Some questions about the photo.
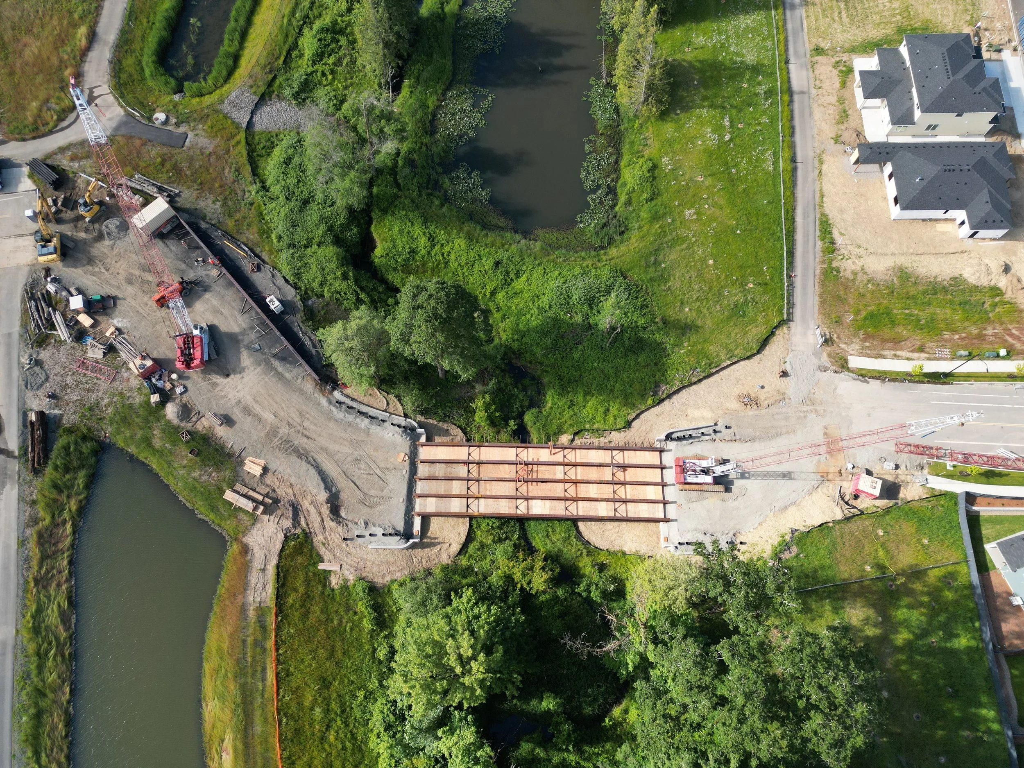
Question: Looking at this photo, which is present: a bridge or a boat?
bridge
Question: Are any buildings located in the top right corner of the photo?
Yes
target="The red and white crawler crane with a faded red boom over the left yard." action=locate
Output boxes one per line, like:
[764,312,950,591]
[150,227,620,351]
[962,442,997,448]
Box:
[66,73,218,381]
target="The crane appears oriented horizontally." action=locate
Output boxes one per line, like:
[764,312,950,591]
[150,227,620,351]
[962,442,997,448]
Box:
[672,410,984,493]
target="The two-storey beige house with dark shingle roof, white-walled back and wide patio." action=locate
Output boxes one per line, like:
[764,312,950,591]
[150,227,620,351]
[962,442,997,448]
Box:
[854,33,1006,136]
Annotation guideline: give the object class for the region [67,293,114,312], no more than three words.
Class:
trailer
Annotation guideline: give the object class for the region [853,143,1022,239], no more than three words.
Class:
house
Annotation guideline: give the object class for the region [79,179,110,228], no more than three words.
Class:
work vehicle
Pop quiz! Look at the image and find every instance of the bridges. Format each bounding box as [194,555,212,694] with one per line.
[337,391,715,555]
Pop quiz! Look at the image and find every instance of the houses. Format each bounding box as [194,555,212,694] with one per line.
[854,33,1006,136]
[853,143,1022,239]
[988,533,1024,624]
